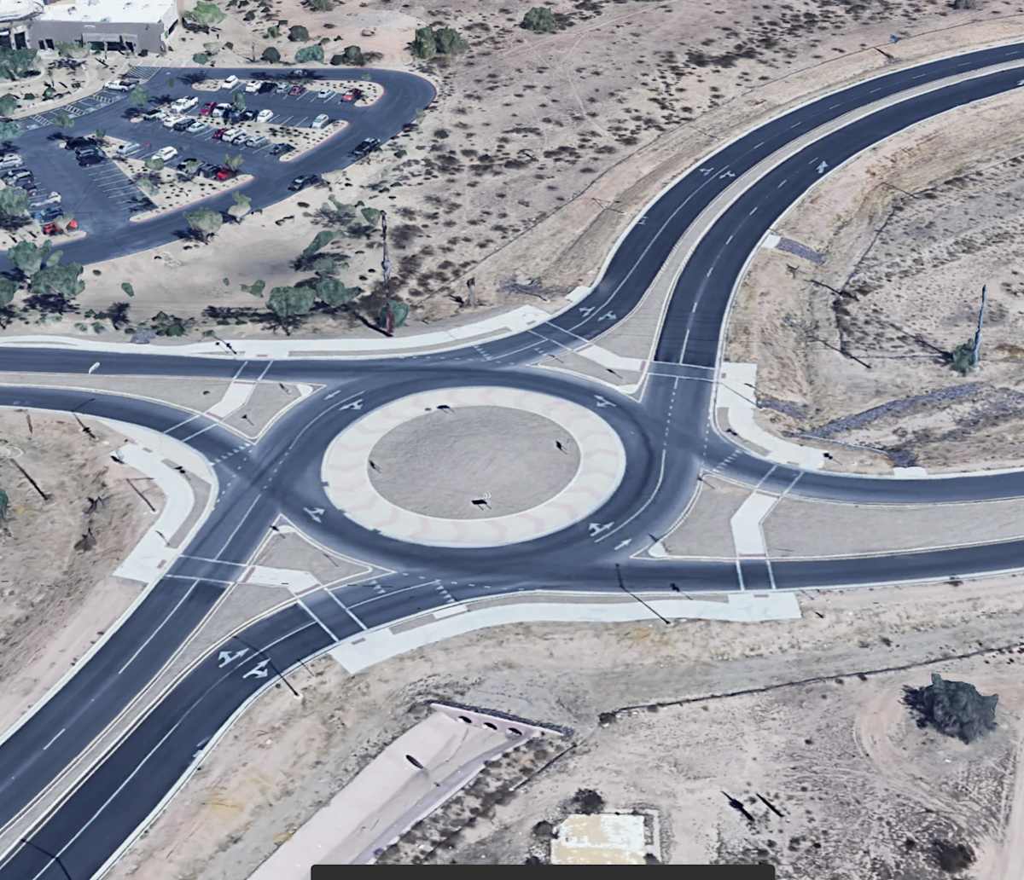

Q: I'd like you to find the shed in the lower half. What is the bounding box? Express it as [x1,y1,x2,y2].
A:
[550,815,649,880]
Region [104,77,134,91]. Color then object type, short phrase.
white vehicle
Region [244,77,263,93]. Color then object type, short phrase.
white car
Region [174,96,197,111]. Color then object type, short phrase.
white vehicle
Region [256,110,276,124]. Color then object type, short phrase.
white car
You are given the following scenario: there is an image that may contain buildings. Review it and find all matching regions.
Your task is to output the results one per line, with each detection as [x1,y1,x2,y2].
[24,0,188,57]
[550,815,649,880]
